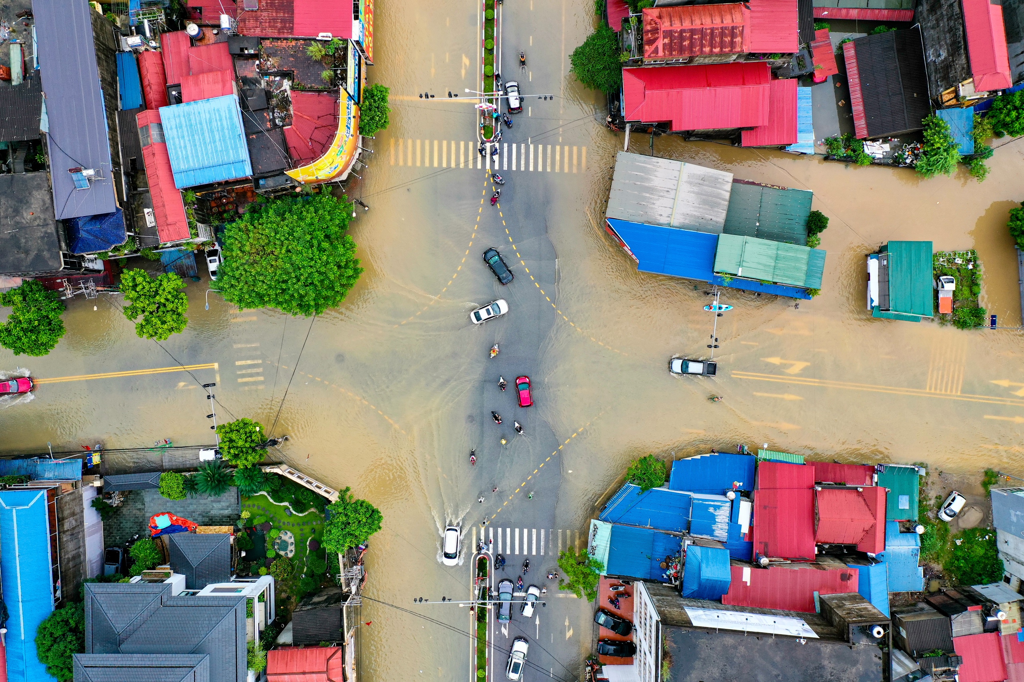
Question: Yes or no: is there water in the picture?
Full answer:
Yes, water shows up in the scene.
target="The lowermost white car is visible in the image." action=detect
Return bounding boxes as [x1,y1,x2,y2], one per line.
[506,636,530,682]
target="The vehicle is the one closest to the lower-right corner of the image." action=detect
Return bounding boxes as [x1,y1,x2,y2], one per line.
[937,490,967,522]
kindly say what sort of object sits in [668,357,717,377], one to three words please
vehicle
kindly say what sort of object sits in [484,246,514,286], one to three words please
car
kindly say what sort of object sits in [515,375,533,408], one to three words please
car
